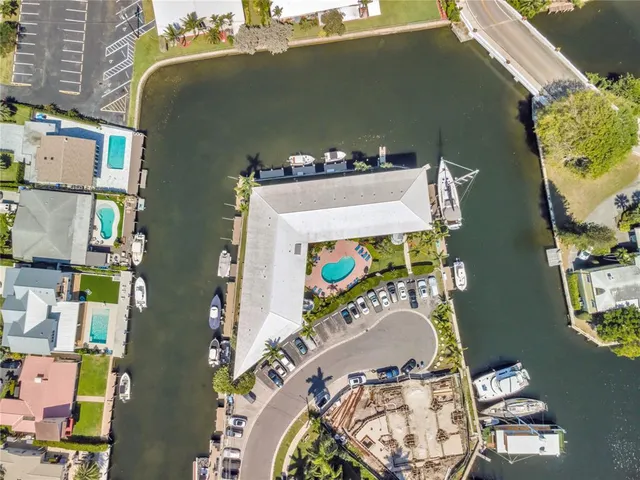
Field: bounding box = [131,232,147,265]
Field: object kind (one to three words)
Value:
boat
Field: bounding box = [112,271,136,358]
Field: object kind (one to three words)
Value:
pier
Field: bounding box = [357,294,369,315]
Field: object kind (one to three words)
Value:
vehicle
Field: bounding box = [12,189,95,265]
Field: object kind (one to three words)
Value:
house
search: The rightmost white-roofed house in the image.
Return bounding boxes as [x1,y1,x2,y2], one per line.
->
[576,256,640,312]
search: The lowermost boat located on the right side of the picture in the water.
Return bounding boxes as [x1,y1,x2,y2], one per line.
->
[482,423,566,461]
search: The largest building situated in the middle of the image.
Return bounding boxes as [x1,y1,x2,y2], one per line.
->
[234,162,432,379]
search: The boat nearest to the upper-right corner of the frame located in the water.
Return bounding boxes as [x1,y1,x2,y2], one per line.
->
[438,156,478,231]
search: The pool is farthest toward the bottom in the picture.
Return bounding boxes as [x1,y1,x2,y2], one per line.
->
[88,308,111,345]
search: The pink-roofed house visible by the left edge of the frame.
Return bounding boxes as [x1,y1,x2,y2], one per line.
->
[0,355,80,433]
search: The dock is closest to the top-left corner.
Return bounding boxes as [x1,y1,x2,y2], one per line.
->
[128,132,148,194]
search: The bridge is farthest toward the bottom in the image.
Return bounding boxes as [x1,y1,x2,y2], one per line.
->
[471,19,592,99]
